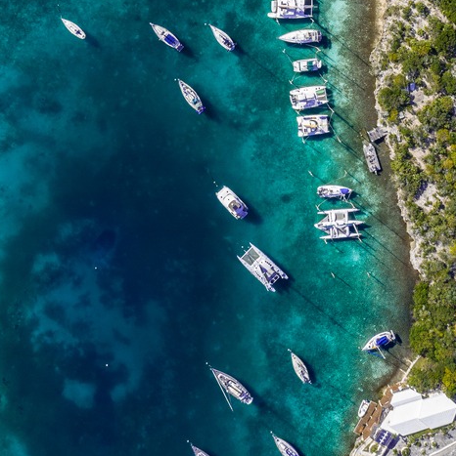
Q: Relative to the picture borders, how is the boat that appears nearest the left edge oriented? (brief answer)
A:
diagonally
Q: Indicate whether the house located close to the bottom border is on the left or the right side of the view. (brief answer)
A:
right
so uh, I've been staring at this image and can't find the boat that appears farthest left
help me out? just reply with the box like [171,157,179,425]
[62,19,87,40]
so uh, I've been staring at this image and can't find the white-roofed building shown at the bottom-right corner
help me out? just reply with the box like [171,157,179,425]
[381,388,456,436]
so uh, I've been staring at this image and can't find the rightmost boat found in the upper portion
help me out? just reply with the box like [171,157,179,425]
[363,142,382,174]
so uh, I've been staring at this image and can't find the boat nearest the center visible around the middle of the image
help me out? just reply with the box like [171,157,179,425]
[214,183,250,222]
